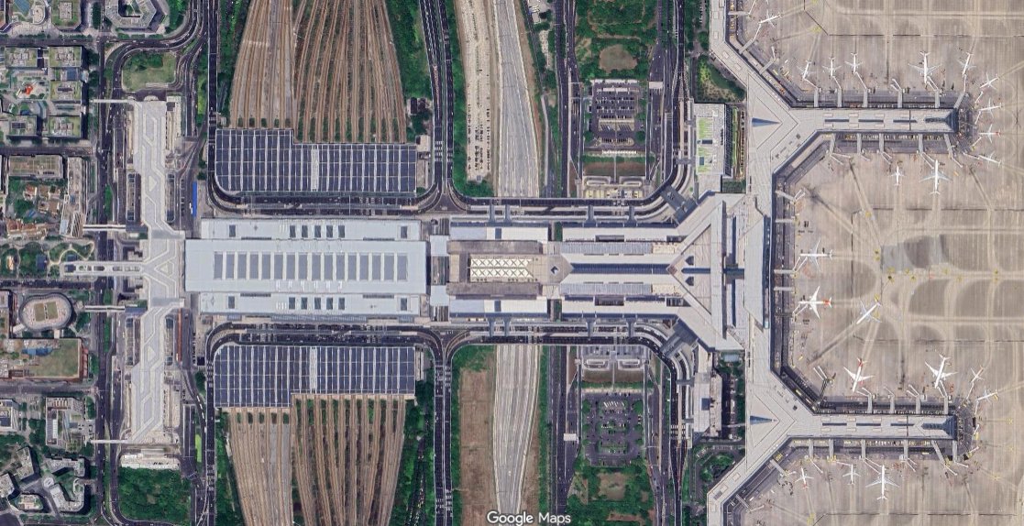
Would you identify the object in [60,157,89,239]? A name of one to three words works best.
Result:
building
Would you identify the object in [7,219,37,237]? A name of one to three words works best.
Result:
house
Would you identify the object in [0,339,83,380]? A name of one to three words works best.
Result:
building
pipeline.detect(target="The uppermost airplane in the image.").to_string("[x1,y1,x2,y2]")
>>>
[760,8,782,27]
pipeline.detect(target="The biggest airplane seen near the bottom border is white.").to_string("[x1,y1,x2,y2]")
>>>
[865,465,900,500]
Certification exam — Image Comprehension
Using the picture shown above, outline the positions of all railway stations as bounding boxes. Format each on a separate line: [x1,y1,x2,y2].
[186,219,430,316]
